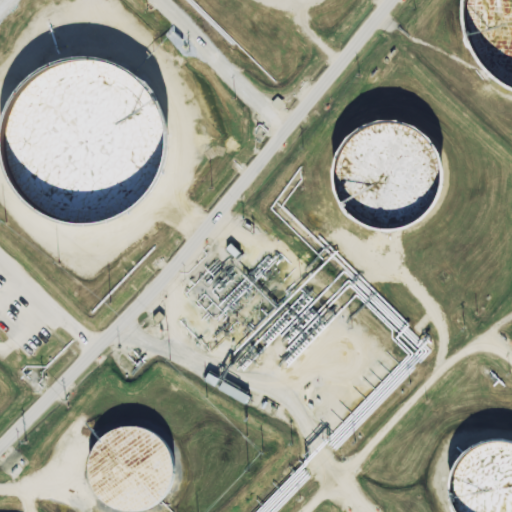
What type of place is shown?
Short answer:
industrial area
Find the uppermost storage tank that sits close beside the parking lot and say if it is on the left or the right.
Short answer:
left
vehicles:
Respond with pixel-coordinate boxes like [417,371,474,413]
[32,336,42,346]
[196,36,206,46]
[79,333,88,344]
[10,304,19,315]
[19,296,28,307]
[40,326,50,337]
[0,273,7,284]
[13,300,22,310]
[37,331,46,342]
[27,340,36,351]
[0,322,8,332]
[212,212,223,224]
[6,308,17,320]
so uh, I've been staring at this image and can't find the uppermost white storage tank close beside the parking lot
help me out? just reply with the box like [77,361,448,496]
[0,24,168,225]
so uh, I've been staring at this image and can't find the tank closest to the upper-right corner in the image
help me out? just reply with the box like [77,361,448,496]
[460,0,512,90]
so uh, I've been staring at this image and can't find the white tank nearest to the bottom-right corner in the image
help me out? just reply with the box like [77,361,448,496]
[447,434,512,512]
